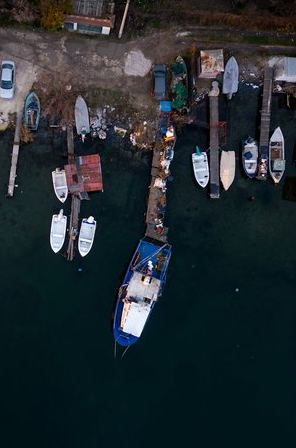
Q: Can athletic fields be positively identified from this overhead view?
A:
No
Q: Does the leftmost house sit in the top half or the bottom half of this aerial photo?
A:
top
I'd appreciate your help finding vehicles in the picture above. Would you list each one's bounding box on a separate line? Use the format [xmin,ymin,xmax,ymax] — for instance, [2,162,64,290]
[0,61,15,100]
[151,66,168,100]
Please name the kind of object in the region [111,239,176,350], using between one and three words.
boat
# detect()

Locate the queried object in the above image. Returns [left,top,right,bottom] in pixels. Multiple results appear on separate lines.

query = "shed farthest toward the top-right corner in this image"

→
[271,57,296,83]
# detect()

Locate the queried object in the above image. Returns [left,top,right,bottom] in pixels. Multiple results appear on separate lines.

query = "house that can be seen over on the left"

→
[65,0,115,44]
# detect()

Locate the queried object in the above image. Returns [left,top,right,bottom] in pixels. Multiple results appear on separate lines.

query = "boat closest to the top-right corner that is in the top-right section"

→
[223,54,240,98]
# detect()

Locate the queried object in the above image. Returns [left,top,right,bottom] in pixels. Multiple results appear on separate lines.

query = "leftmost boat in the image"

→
[24,92,40,131]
